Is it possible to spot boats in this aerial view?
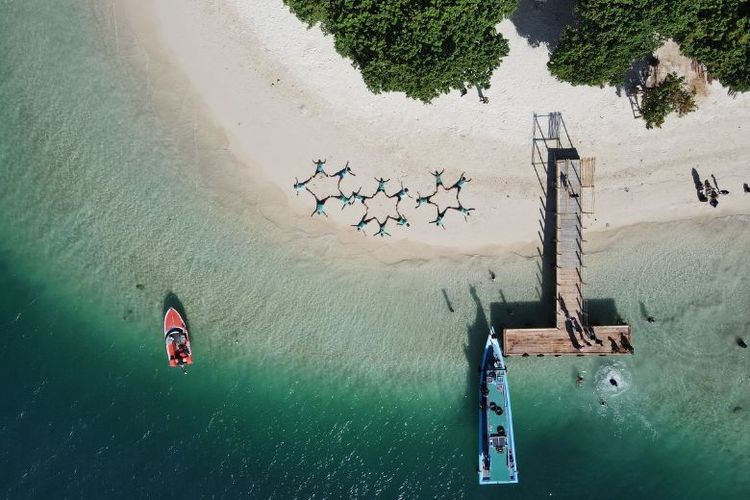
Yes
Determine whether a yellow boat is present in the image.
No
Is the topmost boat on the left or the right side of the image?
left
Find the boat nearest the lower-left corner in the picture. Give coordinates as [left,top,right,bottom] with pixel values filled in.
[164,307,193,373]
